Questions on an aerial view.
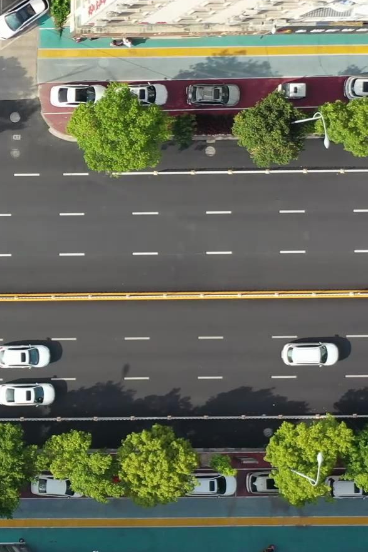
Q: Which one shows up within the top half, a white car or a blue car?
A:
white car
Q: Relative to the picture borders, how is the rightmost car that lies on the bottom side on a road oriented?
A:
from side to side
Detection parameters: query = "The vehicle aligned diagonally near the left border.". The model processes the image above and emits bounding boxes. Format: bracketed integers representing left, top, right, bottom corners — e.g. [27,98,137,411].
[0,0,49,41]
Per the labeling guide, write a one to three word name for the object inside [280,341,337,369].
car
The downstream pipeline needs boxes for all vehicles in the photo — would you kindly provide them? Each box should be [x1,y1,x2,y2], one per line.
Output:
[323,476,368,503]
[0,343,48,370]
[181,472,236,500]
[0,0,49,41]
[266,544,277,552]
[243,471,289,496]
[0,381,54,409]
[183,80,239,109]
[29,473,80,499]
[48,82,103,109]
[280,341,337,369]
[113,81,167,107]
[343,75,368,101]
